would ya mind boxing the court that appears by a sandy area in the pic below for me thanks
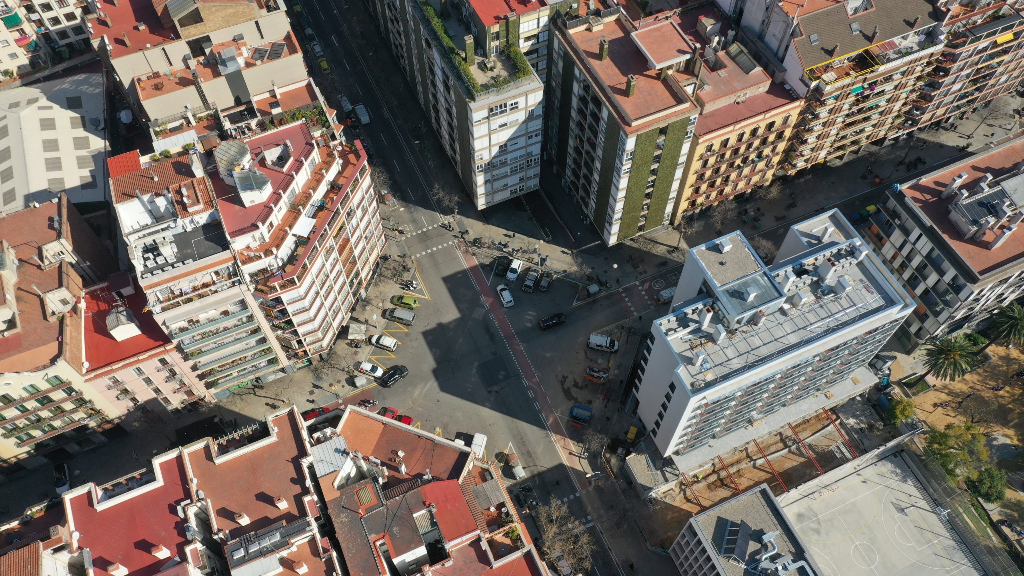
[779,450,978,576]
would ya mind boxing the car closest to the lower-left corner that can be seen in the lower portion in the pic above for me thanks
[54,464,71,494]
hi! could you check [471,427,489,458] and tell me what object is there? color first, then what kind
white vehicle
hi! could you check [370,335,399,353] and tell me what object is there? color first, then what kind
white car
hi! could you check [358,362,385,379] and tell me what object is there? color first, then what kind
white car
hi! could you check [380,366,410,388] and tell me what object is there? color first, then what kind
black car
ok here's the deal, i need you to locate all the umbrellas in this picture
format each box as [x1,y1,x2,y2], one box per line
[349,325,366,340]
[118,110,137,126]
